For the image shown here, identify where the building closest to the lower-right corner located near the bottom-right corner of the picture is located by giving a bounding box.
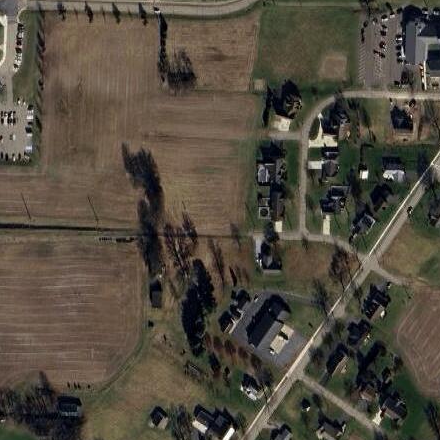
[381,392,403,419]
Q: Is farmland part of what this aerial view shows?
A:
Yes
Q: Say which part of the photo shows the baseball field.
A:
top right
